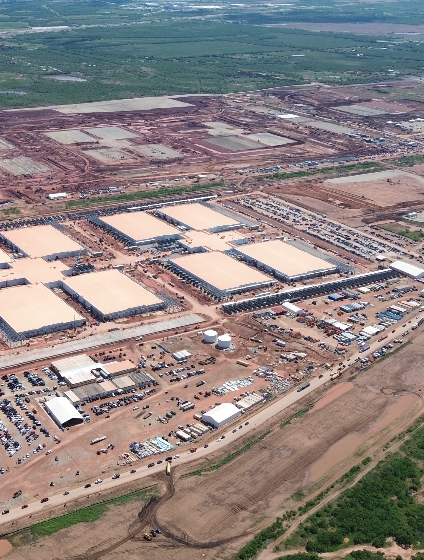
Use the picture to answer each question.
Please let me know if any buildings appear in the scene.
Yes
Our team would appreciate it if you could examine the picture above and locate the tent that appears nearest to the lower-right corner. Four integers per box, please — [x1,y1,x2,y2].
[203,403,240,431]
